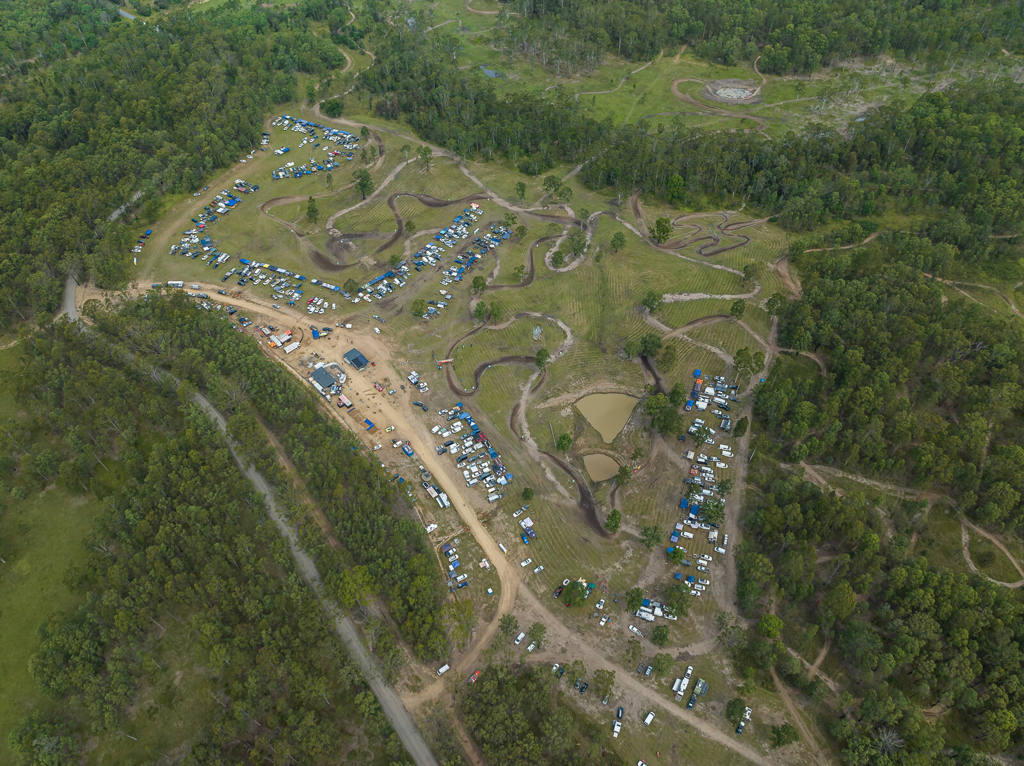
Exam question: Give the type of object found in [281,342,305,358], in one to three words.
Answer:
vehicle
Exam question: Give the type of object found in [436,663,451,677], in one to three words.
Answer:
vehicle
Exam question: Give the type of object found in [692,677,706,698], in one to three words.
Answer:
camper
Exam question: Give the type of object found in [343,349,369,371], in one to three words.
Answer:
shed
